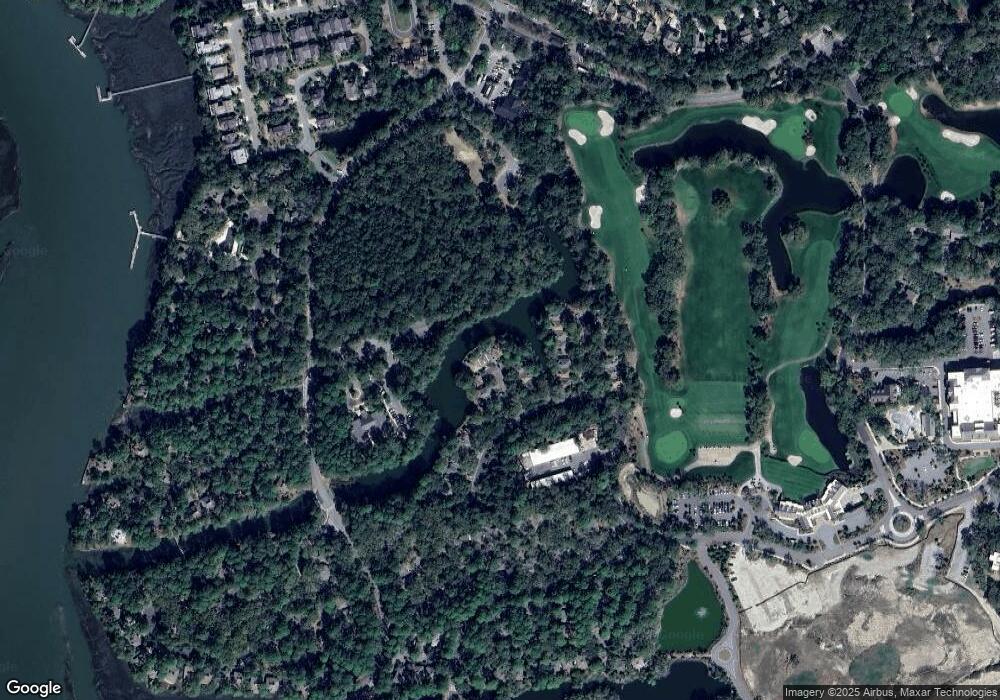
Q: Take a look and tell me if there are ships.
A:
No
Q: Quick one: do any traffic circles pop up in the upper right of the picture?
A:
No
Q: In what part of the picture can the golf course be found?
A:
right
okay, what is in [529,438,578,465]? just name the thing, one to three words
building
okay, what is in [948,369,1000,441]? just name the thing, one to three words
building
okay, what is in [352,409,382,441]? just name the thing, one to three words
house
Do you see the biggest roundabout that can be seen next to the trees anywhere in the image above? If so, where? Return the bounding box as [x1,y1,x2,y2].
[883,505,921,543]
